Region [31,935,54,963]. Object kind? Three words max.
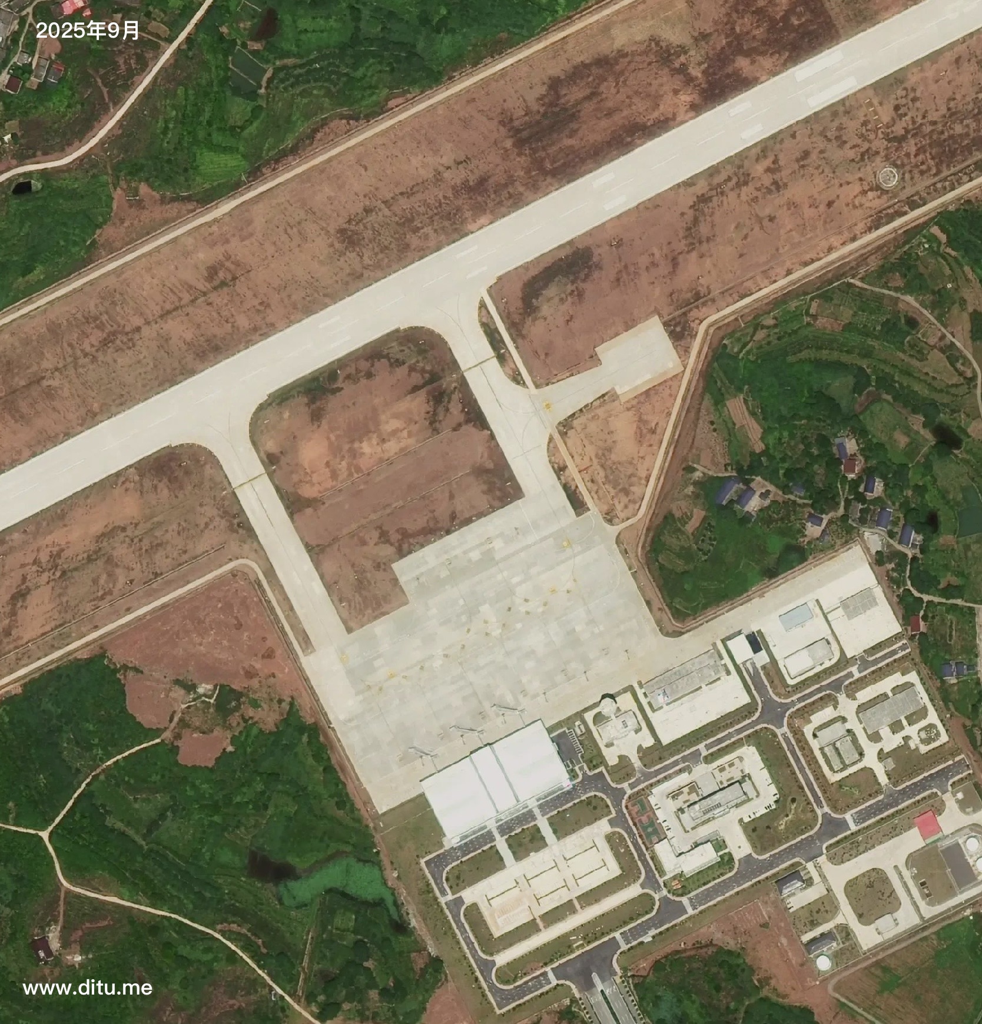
house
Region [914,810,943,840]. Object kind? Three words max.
shed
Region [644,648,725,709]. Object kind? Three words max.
building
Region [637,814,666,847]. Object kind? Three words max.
basketball court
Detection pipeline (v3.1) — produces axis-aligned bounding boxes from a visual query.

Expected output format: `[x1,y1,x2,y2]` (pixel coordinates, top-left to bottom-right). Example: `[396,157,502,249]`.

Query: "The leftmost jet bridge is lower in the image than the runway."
[408,746,439,772]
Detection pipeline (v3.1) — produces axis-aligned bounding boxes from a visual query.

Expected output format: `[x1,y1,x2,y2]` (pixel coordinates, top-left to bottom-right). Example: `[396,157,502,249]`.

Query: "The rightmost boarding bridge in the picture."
[490,702,526,726]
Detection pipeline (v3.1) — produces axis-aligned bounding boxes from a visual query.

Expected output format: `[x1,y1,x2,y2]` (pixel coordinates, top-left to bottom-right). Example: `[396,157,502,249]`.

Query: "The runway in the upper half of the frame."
[0,0,982,530]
